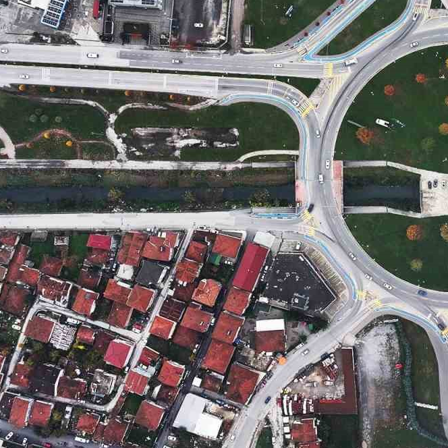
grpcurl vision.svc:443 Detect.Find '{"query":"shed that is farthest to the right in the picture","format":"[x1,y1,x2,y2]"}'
[317,346,359,413]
